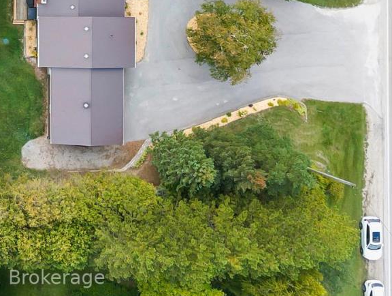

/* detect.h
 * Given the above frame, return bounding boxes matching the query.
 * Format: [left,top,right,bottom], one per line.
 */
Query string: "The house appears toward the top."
[34,0,136,148]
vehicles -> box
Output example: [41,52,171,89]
[360,218,385,260]
[362,281,386,296]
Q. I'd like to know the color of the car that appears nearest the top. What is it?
white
